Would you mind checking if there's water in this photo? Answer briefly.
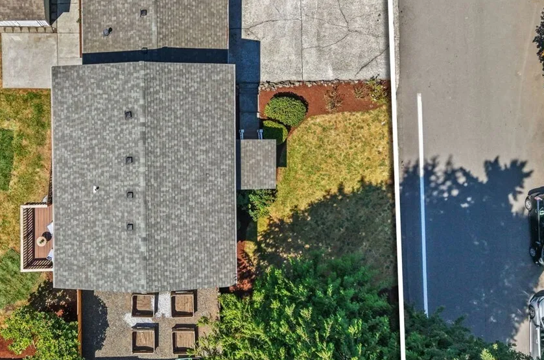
No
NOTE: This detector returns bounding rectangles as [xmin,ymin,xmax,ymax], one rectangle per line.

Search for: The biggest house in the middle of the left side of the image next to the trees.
[48,61,237,297]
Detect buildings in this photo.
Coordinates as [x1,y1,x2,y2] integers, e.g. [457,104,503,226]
[0,0,50,26]
[48,61,237,297]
